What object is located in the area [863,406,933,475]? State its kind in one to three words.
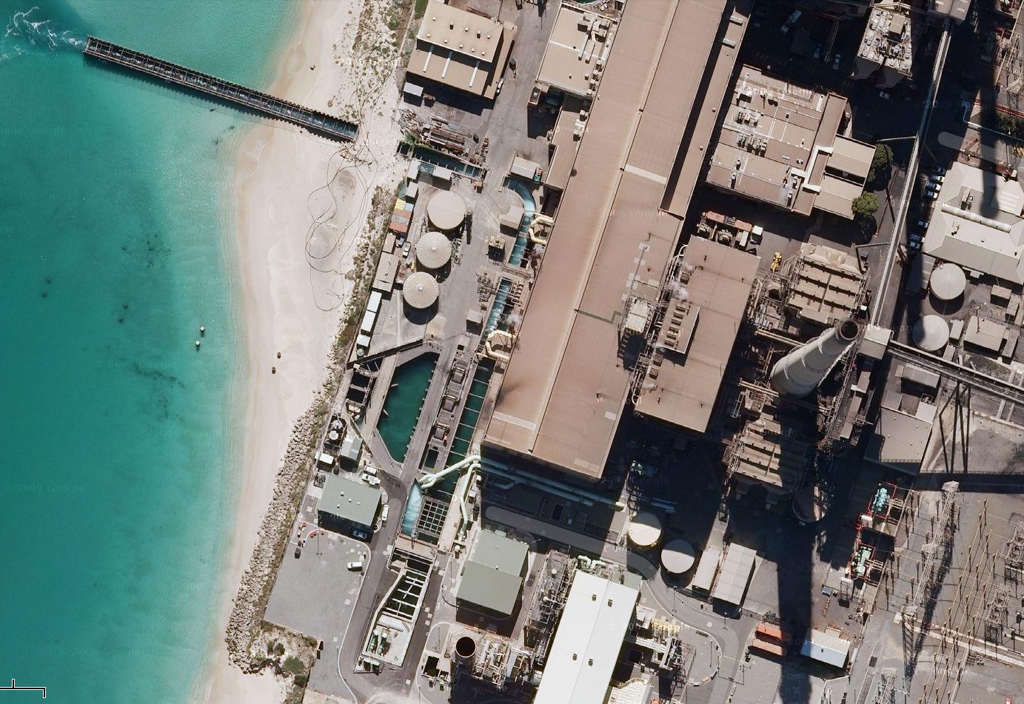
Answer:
building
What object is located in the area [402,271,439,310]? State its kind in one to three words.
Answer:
storage tank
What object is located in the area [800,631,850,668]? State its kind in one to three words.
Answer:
shed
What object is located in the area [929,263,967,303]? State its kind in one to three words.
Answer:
storage tank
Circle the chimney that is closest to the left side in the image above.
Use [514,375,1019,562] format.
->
[454,636,477,660]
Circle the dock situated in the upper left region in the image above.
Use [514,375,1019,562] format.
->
[82,35,360,141]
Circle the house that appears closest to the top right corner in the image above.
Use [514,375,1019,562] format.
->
[917,0,972,44]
